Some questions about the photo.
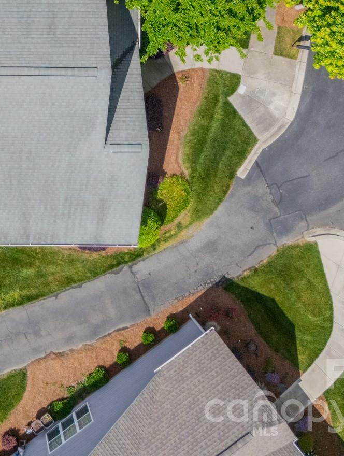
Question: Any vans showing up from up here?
No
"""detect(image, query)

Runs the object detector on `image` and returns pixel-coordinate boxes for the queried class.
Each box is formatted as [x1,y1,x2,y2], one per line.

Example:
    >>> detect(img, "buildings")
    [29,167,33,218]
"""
[0,0,148,249]
[13,318,307,456]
